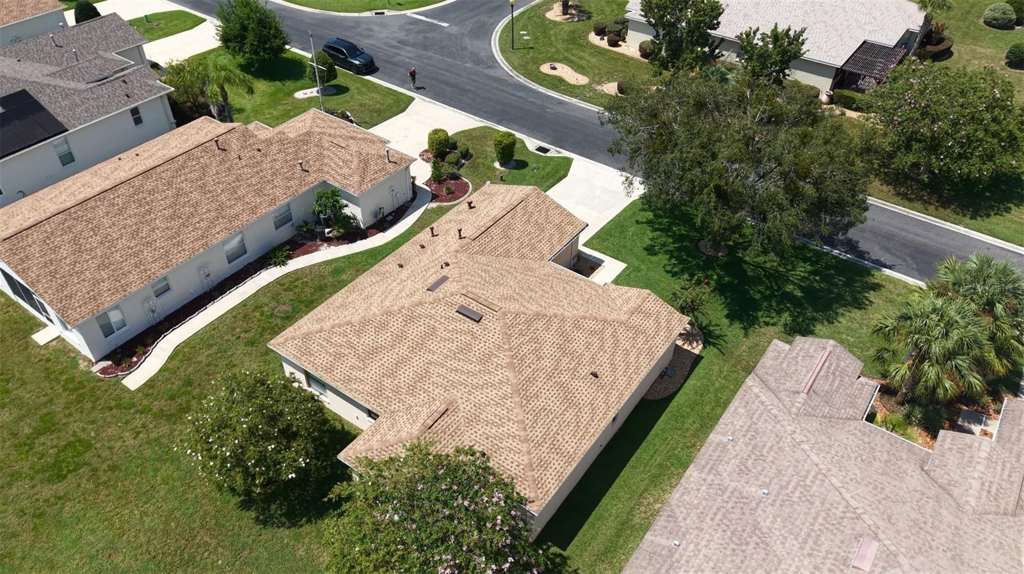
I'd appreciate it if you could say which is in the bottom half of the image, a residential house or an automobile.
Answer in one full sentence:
You can see a residential house in the bottom half of the image.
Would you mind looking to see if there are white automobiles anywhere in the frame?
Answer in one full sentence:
No, I can see no white automobile in this picture.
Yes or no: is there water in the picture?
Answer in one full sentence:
No, there is no water in the image.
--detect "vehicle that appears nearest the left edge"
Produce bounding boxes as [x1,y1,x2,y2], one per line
[323,37,378,72]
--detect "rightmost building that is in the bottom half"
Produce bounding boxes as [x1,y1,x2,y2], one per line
[622,336,1024,574]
